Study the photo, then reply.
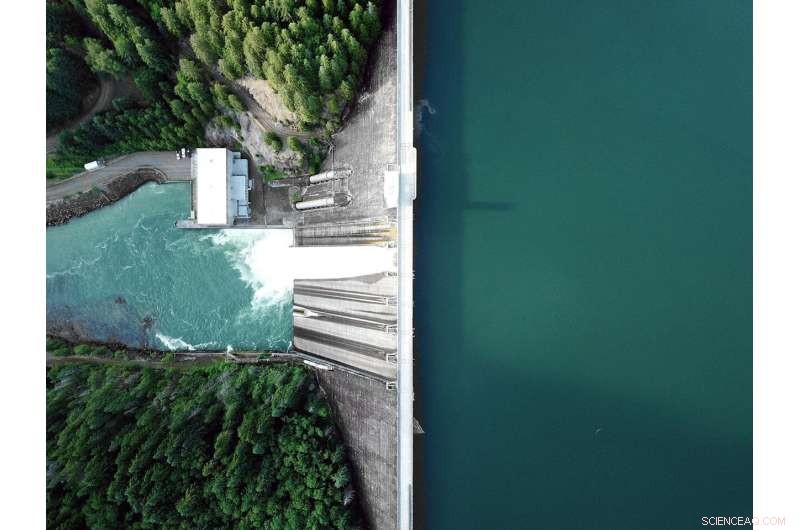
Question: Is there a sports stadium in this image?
No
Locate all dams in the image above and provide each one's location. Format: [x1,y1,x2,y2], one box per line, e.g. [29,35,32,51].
[288,0,423,530]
